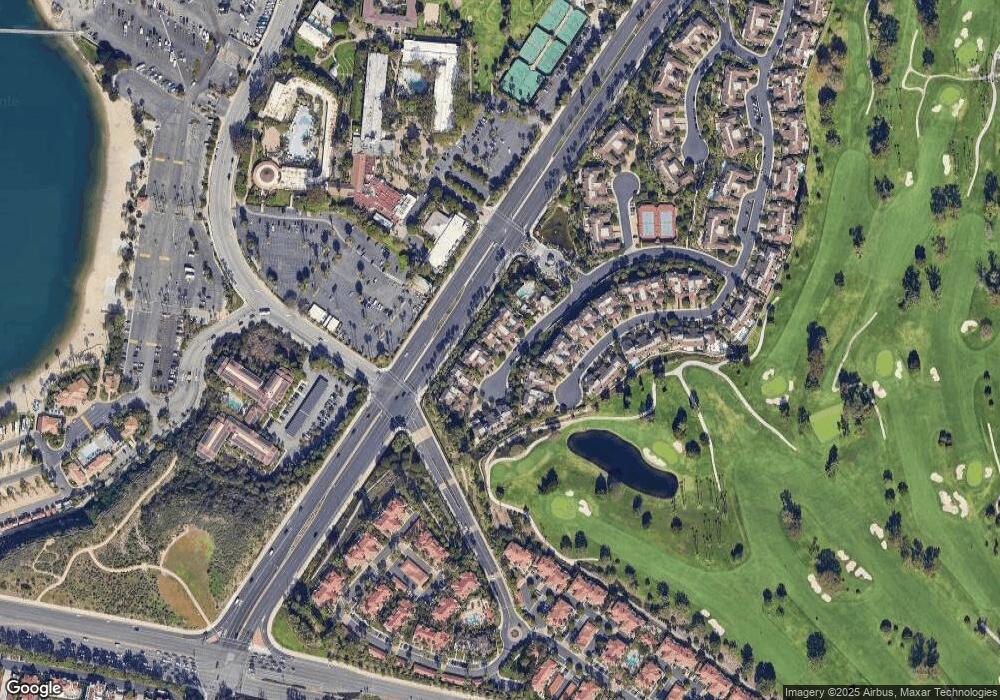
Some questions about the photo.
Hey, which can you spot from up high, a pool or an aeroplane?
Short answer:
pool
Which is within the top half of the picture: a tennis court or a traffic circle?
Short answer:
tennis court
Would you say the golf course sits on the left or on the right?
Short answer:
right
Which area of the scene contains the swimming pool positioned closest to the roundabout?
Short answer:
bottom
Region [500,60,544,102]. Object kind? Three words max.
tennis court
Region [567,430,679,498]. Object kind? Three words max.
pond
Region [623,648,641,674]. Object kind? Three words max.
swimming pool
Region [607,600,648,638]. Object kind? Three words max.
house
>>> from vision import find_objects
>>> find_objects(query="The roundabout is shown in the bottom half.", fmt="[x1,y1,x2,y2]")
[496,616,531,651]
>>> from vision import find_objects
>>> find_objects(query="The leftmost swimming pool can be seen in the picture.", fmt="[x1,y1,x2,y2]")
[77,436,104,466]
